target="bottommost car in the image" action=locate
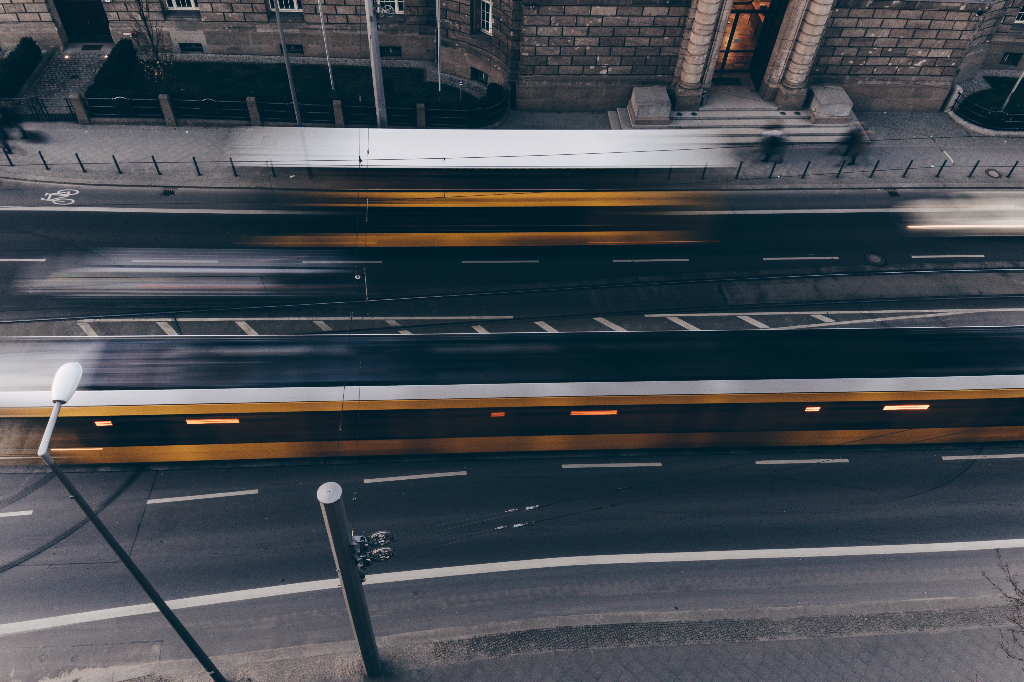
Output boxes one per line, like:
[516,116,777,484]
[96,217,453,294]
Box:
[114,241,264,301]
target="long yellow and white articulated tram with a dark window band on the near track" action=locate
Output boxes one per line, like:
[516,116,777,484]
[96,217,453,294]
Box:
[5,323,1024,465]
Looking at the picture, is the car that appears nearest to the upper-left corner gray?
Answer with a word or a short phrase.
Yes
